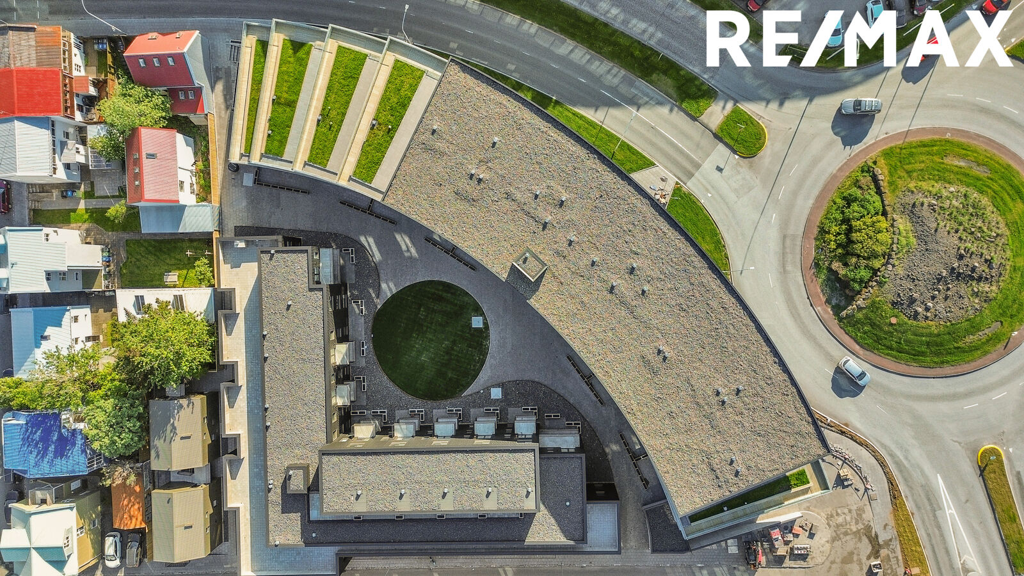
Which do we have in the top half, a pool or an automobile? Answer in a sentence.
The feature located in the top half is an automobile.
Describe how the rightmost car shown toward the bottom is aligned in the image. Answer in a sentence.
In this picture, the rightmost car shown toward the bottom is oriented on a diagonal.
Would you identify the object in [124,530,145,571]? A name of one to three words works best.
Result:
truck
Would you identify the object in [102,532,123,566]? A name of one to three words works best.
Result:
car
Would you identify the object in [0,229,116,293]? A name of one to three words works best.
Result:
house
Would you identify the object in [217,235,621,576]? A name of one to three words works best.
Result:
building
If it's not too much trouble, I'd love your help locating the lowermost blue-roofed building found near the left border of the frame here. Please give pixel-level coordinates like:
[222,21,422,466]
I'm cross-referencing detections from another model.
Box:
[2,413,114,480]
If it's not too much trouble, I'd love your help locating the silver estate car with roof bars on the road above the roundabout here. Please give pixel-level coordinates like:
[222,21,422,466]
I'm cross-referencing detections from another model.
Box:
[838,97,881,117]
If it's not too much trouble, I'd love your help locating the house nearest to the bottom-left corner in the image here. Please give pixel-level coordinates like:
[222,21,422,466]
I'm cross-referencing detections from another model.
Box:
[0,488,102,576]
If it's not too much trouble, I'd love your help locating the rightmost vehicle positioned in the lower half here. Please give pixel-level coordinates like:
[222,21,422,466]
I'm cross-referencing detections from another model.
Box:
[837,356,868,387]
